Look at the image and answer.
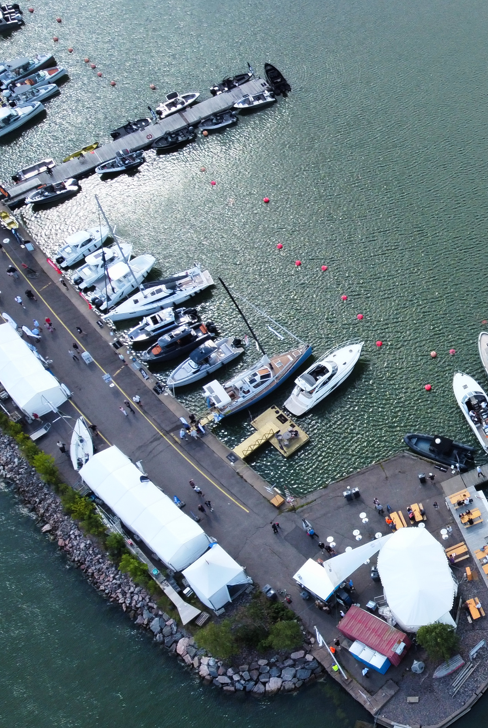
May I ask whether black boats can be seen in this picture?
Yes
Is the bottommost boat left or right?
right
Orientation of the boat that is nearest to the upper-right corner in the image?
on a diagonal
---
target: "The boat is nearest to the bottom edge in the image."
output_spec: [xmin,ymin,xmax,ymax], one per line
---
[432,652,465,678]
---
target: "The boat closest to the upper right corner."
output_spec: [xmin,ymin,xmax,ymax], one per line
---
[265,64,291,99]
